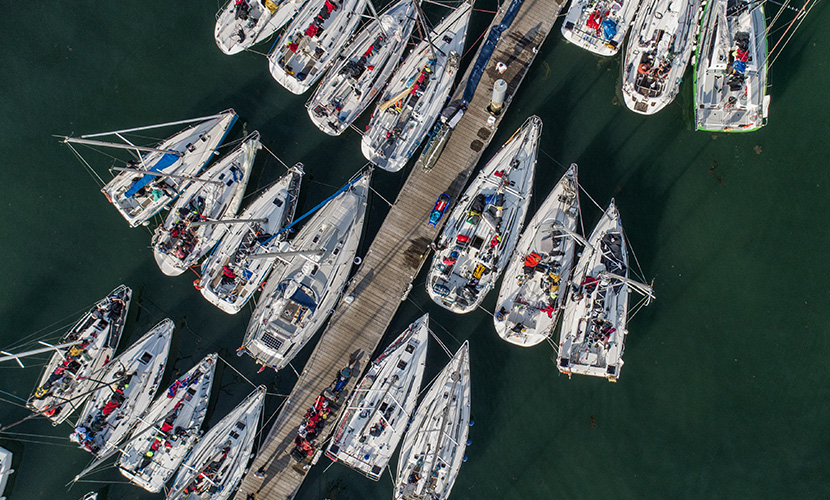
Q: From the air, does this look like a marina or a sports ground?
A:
marina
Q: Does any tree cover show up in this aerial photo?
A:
No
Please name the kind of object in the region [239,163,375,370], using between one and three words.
boat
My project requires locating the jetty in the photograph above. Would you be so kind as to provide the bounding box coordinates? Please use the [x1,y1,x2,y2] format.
[234,0,567,500]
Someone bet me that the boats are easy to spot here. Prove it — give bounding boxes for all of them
[220,0,308,52]
[558,197,662,378]
[271,0,366,91]
[327,313,430,475]
[365,0,476,169]
[103,128,262,276]
[563,0,649,54]
[693,0,813,132]
[432,113,539,314]
[624,0,708,114]
[400,340,473,500]
[0,284,135,421]
[313,0,420,130]
[182,159,303,310]
[71,353,220,492]
[496,163,600,348]
[163,382,267,500]
[0,318,178,455]
[239,163,375,370]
